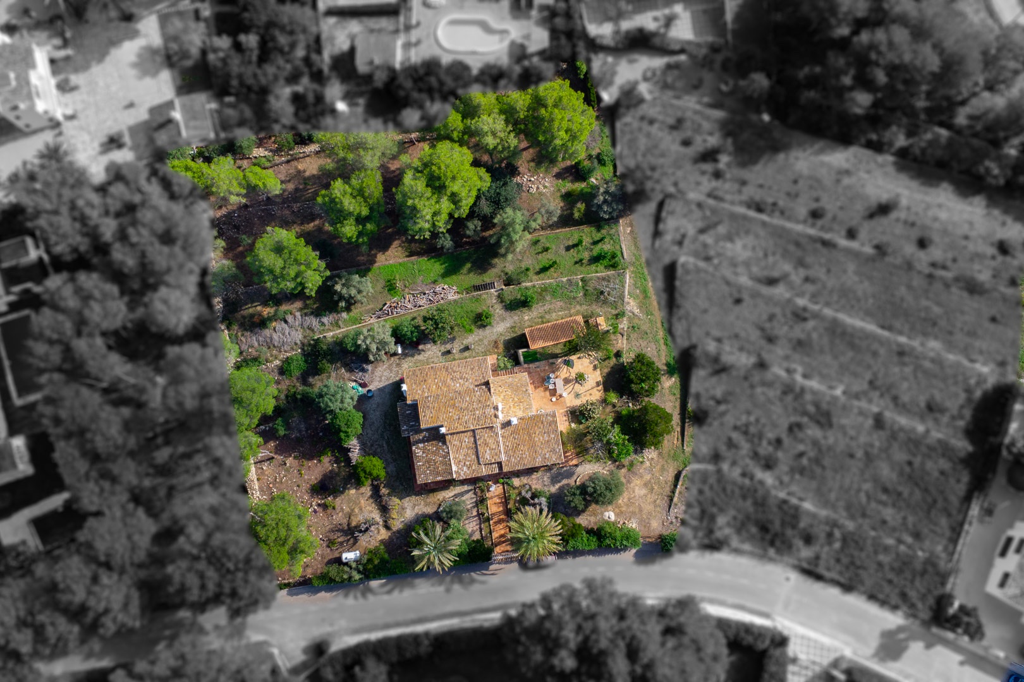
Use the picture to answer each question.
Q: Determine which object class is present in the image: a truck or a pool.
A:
pool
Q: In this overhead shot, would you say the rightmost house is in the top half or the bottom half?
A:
bottom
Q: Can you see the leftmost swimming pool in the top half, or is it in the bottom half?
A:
top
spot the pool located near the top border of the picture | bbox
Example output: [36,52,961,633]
[439,10,517,55]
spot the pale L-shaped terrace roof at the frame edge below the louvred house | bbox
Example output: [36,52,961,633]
[0,489,85,550]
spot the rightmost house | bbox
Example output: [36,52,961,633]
[970,509,1024,610]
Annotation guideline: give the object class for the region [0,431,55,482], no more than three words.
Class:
house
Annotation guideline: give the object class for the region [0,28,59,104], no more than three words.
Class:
house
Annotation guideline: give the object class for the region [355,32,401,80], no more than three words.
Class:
building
